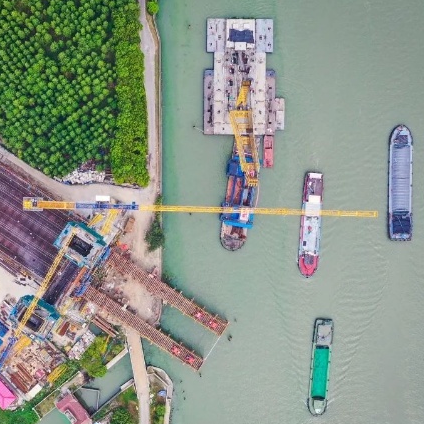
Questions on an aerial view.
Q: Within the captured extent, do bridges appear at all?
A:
Yes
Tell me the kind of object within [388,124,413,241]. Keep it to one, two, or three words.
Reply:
ship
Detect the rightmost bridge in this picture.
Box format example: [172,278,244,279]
[125,332,150,399]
